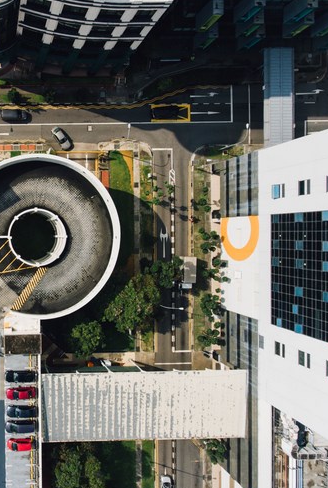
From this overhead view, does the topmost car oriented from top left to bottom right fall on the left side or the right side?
left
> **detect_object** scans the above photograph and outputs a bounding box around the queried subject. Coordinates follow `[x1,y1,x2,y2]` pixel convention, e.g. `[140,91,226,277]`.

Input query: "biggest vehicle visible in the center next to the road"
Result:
[177,256,197,290]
